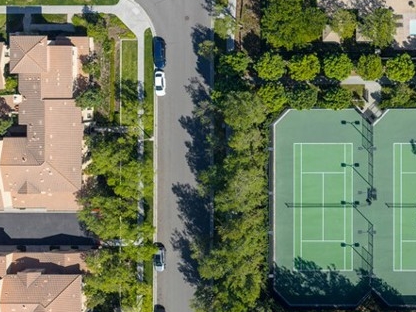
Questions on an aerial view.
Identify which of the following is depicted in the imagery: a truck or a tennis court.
tennis court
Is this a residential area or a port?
residential area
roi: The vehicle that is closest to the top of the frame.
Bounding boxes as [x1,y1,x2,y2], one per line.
[151,40,165,65]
